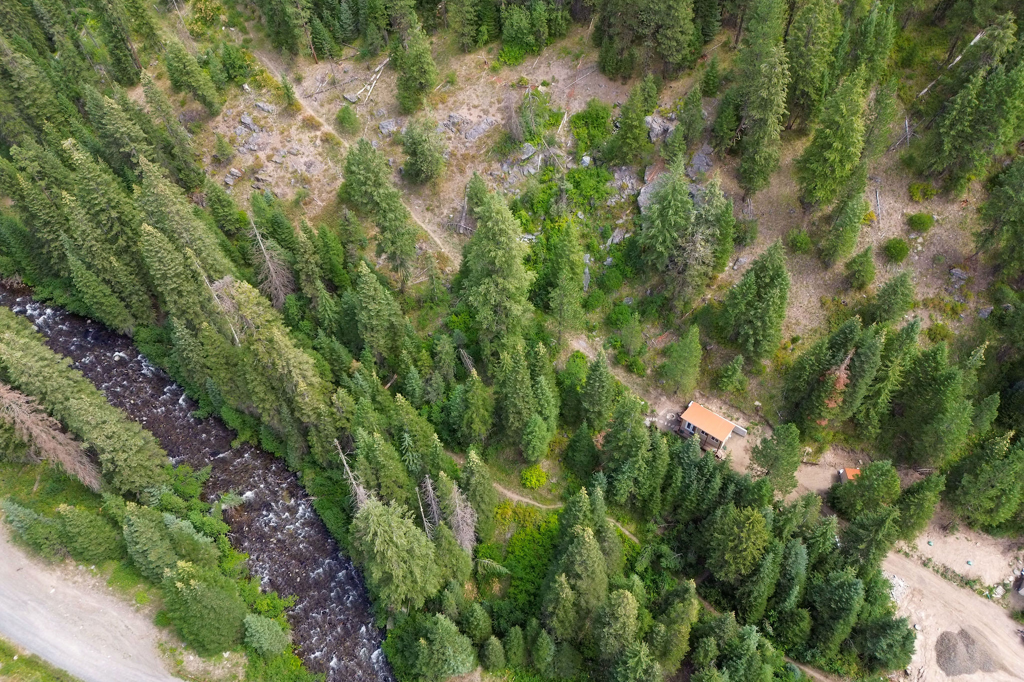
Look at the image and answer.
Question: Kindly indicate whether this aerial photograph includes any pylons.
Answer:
No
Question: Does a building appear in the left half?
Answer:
No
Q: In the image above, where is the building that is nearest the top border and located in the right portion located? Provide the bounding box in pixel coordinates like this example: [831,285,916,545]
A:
[676,401,737,460]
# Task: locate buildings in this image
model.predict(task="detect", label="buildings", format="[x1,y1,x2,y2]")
[676,401,737,460]
[841,466,871,491]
